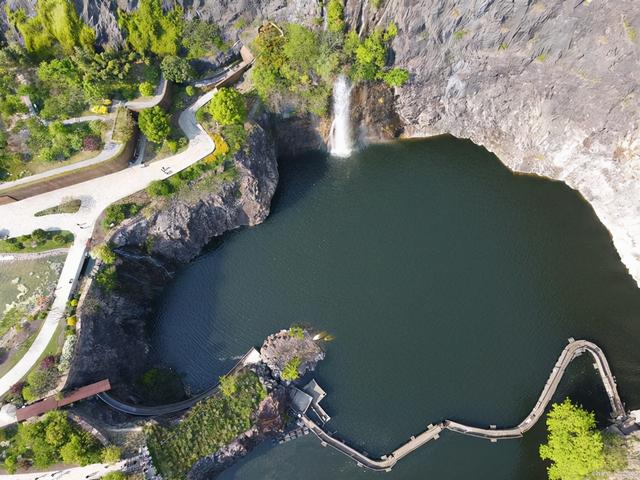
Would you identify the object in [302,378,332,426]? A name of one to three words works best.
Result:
pier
